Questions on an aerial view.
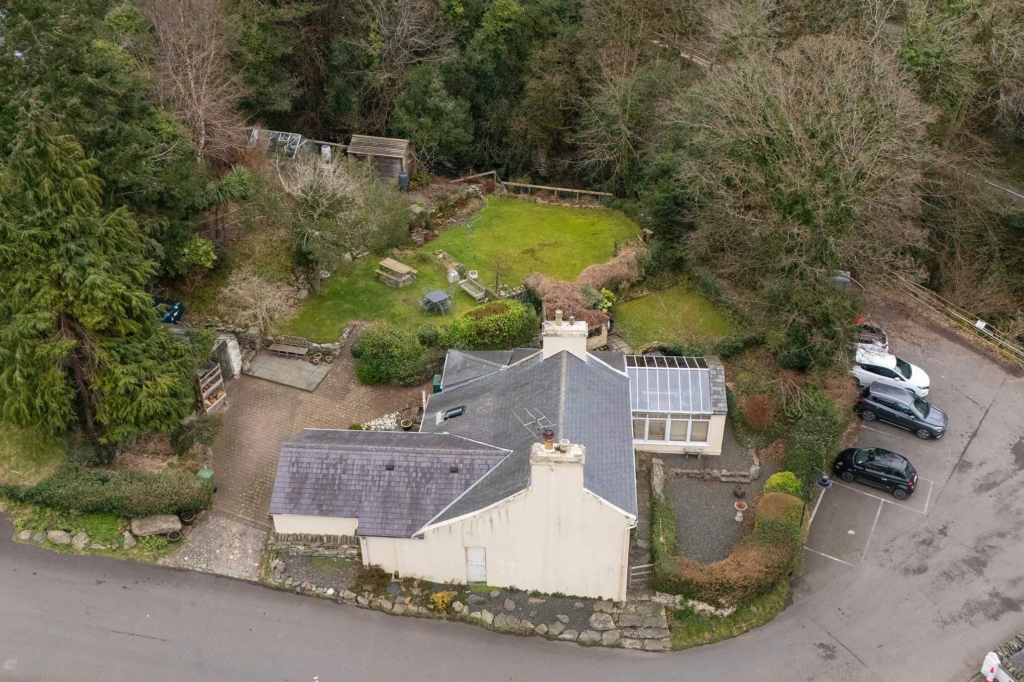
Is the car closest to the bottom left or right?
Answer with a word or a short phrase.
right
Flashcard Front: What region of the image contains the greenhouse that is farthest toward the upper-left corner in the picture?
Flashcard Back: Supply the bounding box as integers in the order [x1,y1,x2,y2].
[250,130,313,174]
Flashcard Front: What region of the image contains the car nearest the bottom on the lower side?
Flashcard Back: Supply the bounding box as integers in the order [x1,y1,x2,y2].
[839,449,923,503]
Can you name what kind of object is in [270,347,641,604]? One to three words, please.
house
